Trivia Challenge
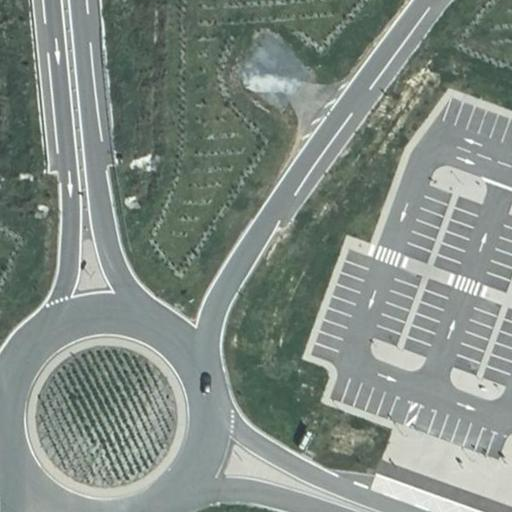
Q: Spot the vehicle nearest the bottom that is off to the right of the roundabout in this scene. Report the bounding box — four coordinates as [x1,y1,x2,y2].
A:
[298,431,314,452]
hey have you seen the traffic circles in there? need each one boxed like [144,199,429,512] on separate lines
[0,294,230,512]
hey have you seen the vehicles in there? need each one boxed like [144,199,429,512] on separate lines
[298,431,314,452]
[202,374,212,394]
